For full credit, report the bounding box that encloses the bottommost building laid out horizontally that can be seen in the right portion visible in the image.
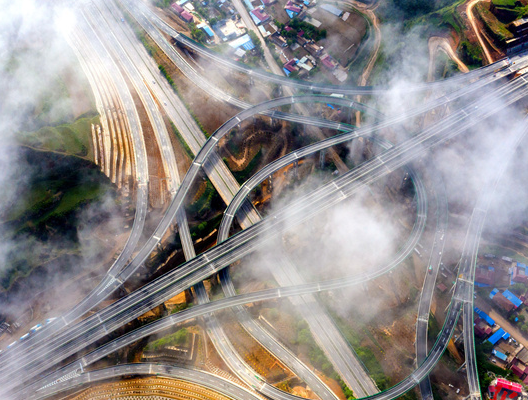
[485,376,522,395]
